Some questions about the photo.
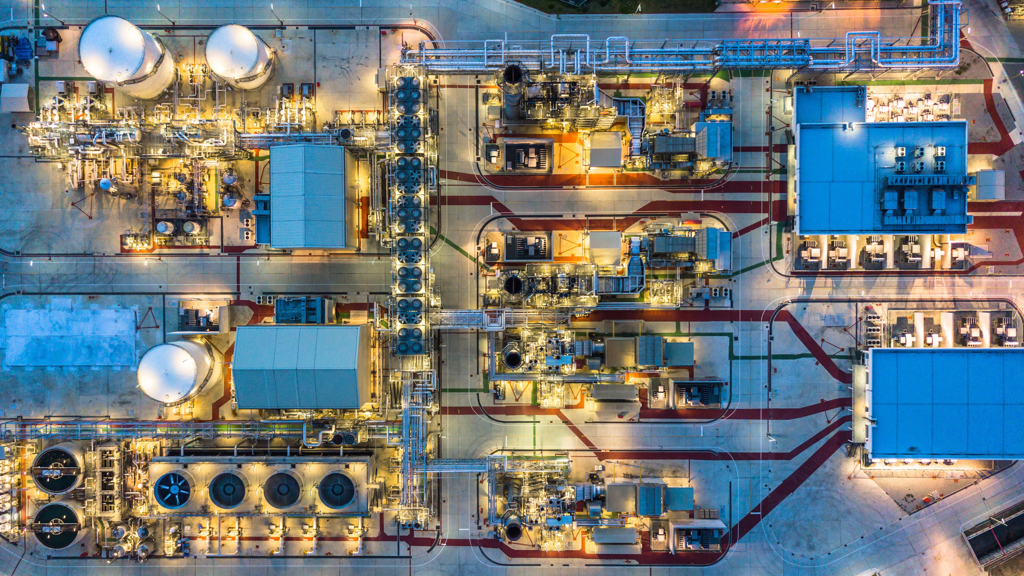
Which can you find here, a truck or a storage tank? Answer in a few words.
storage tank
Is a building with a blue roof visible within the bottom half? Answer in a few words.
Yes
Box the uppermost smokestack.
[498,64,528,119]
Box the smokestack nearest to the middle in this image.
[498,270,528,300]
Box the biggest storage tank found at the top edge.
[74,12,177,102]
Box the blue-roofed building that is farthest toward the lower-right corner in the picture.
[846,346,1024,459]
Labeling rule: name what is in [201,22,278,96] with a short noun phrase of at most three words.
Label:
storage tank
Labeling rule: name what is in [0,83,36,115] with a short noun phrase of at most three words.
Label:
shed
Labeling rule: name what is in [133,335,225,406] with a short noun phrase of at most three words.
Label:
storage tank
